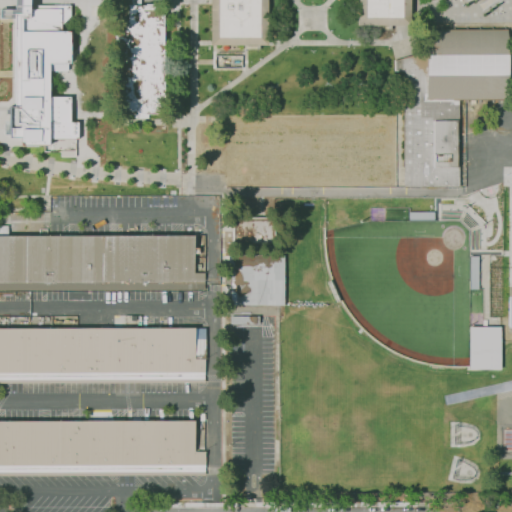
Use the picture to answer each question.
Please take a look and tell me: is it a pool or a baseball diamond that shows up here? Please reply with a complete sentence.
There is a baseball diamond in the scene.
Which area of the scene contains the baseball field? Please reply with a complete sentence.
The baseball field appears toward the right of the photo.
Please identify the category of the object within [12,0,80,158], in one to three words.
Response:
building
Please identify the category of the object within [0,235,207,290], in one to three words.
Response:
building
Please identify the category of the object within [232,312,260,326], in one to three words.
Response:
shed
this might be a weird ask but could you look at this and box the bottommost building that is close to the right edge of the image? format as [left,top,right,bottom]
[470,326,503,370]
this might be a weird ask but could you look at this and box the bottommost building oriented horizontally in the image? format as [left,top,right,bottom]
[0,420,206,472]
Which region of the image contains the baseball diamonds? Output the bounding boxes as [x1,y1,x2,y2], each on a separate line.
[323,221,470,370]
